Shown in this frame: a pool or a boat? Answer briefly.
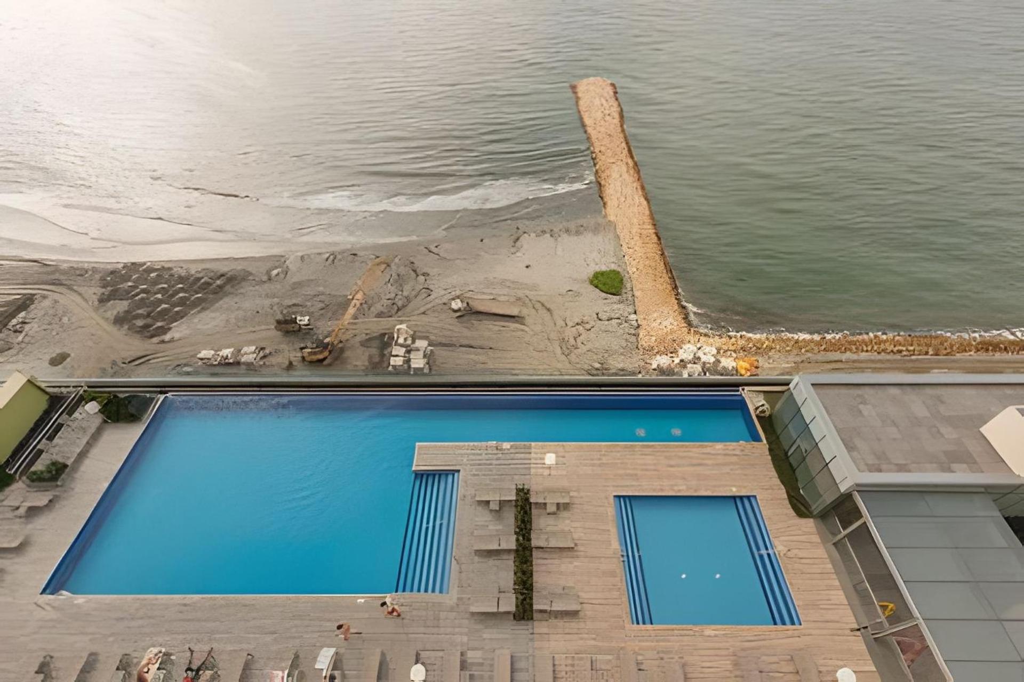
pool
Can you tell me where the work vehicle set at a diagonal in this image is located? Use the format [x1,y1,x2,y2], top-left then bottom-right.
[284,271,384,376]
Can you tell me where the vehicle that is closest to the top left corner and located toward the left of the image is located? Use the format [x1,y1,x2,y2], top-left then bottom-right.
[265,316,317,335]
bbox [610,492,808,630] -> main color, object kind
blue swimming pool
